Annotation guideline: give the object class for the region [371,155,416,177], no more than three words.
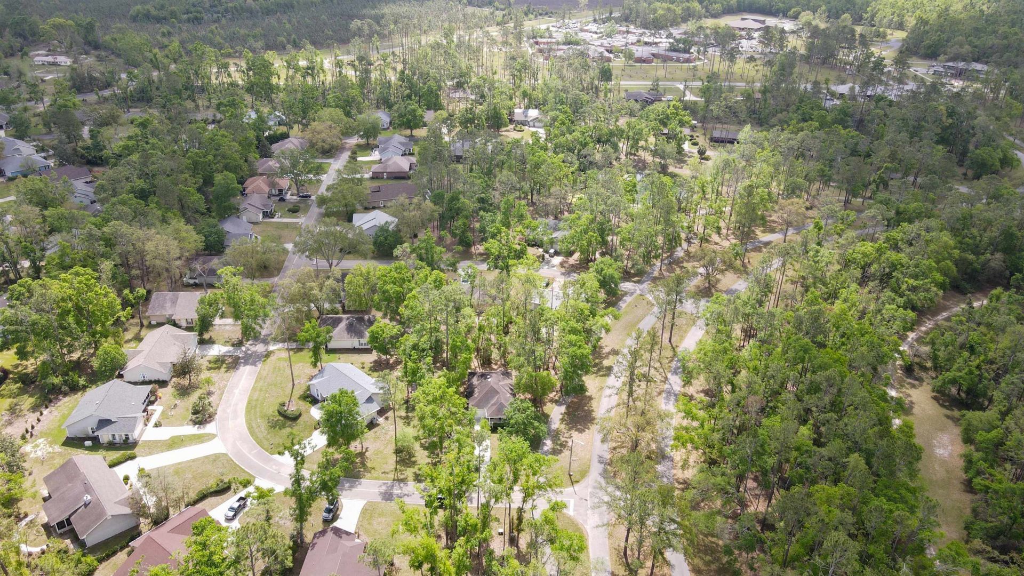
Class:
house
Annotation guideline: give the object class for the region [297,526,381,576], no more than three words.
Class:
house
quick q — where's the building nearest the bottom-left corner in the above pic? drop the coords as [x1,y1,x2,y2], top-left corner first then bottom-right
[40,452,144,549]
